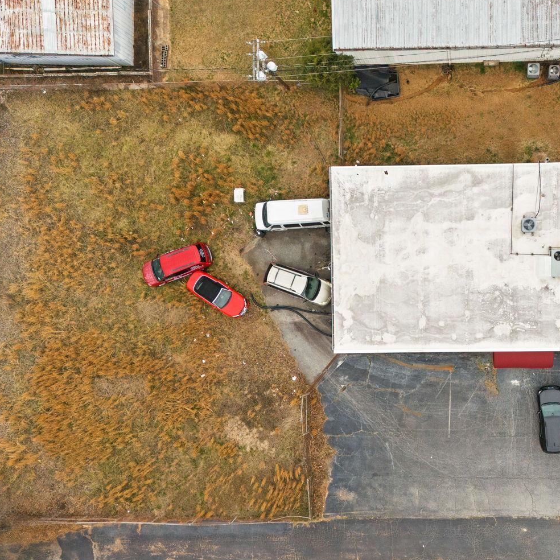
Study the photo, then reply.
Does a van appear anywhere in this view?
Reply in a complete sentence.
Yes, the picture does show a van.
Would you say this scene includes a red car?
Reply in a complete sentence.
Yes, the picture does show a red car.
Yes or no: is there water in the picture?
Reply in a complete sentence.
No, no water is visible.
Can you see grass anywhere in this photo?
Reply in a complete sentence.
Yes, grass can be seen from above here.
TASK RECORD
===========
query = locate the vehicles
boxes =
[255,200,330,236]
[143,242,215,287]
[183,270,250,319]
[261,264,330,308]
[536,384,560,454]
